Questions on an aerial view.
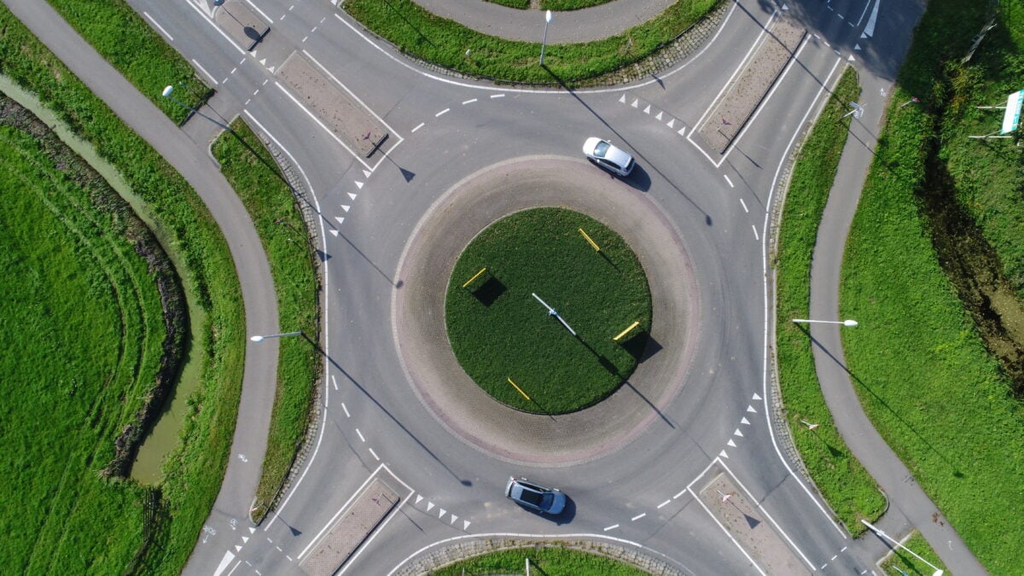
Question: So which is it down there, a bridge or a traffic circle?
traffic circle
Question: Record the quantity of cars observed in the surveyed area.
2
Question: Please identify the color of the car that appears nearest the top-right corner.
white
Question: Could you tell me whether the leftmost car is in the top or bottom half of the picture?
bottom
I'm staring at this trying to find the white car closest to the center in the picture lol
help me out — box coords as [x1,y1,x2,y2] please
[581,138,637,176]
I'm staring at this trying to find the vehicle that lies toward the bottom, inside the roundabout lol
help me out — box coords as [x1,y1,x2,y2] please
[505,476,567,514]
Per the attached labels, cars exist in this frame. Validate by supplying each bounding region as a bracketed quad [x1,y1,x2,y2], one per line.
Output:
[505,476,567,514]
[581,138,637,176]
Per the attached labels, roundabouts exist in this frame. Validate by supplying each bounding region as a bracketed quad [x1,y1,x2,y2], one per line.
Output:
[329,93,764,530]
